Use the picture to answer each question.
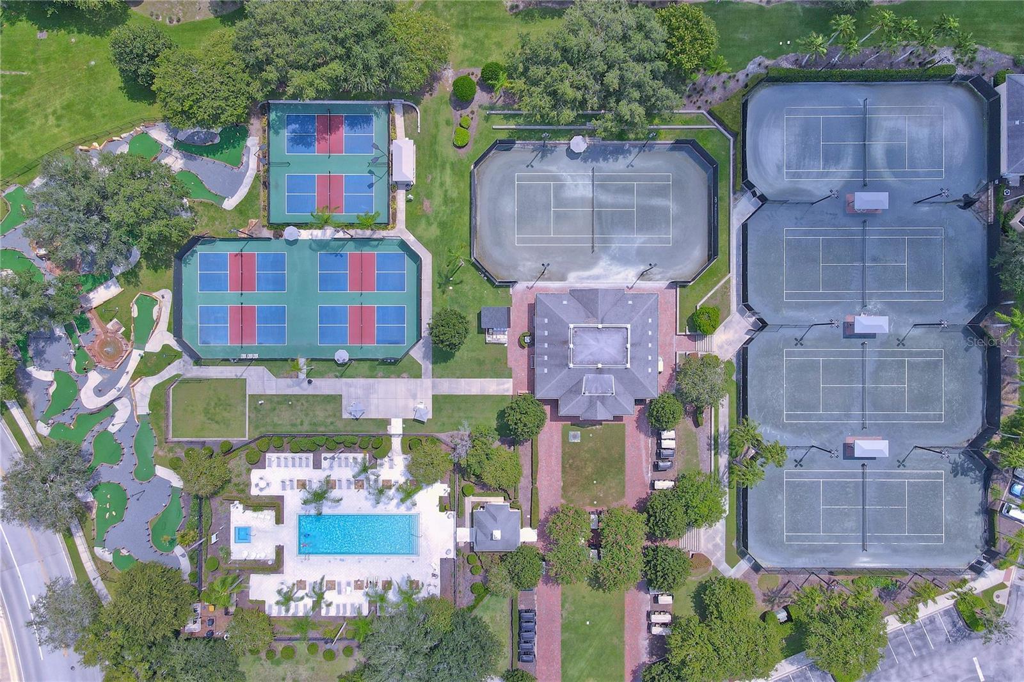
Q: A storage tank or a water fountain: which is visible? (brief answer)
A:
water fountain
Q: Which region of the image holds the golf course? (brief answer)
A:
left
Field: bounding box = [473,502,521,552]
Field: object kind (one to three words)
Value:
building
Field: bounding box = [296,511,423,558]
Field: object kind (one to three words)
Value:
swimming pool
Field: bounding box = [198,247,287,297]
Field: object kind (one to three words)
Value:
sports court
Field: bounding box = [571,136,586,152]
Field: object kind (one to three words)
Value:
umbrella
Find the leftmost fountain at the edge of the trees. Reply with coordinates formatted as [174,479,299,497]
[88,310,131,368]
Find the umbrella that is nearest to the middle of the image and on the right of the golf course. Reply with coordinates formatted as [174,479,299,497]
[414,404,429,420]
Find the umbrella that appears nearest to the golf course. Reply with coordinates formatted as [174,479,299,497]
[284,226,299,240]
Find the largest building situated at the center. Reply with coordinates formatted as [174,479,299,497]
[535,289,658,420]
